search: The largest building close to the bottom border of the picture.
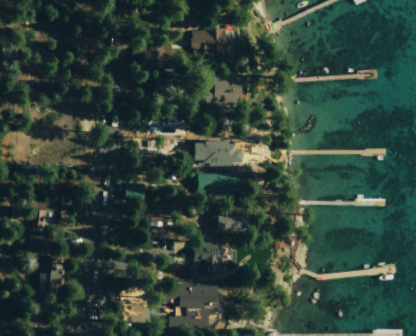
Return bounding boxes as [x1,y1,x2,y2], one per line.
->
[164,284,218,327]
